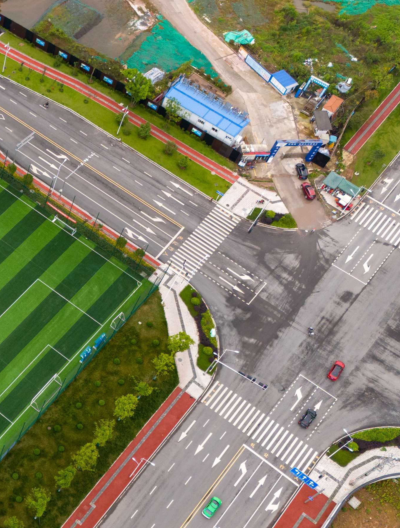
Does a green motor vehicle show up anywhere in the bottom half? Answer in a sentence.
Yes, a green motor vehicle can be seen in the bottom half.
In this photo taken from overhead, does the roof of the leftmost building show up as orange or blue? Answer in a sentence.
In this view, the roof of the leftmost building is blue.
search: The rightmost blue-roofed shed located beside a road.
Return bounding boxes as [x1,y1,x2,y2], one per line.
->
[269,66,301,96]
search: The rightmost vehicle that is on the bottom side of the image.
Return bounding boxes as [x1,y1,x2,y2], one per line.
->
[327,360,344,382]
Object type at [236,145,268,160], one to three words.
building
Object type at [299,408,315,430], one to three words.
car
